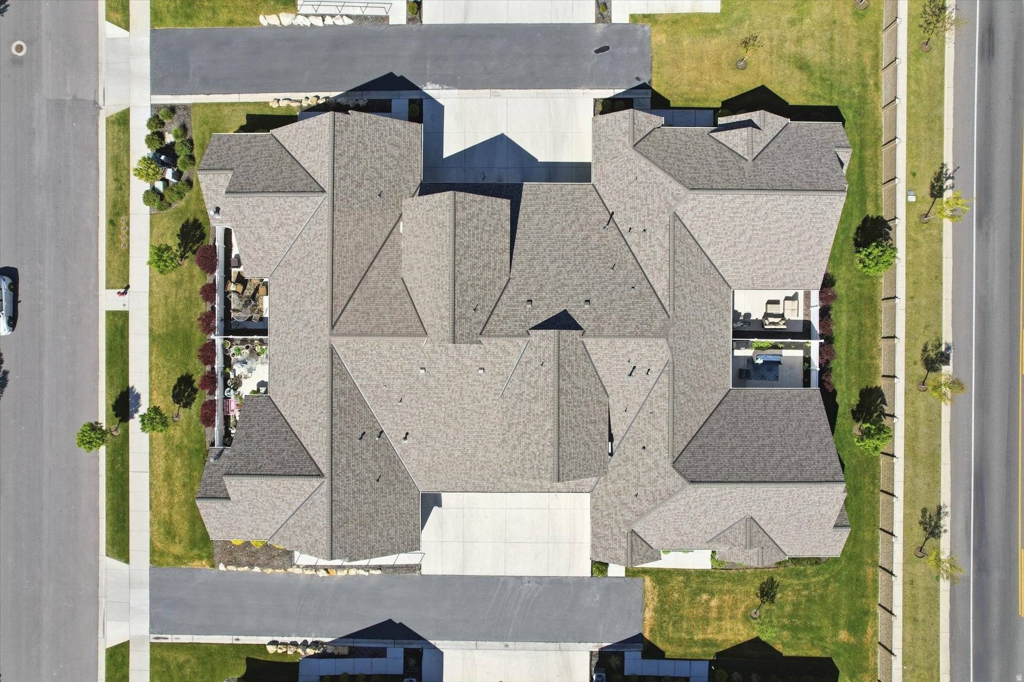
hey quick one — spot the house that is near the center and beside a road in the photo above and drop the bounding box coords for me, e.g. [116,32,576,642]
[197,109,852,567]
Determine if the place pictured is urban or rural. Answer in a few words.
urban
